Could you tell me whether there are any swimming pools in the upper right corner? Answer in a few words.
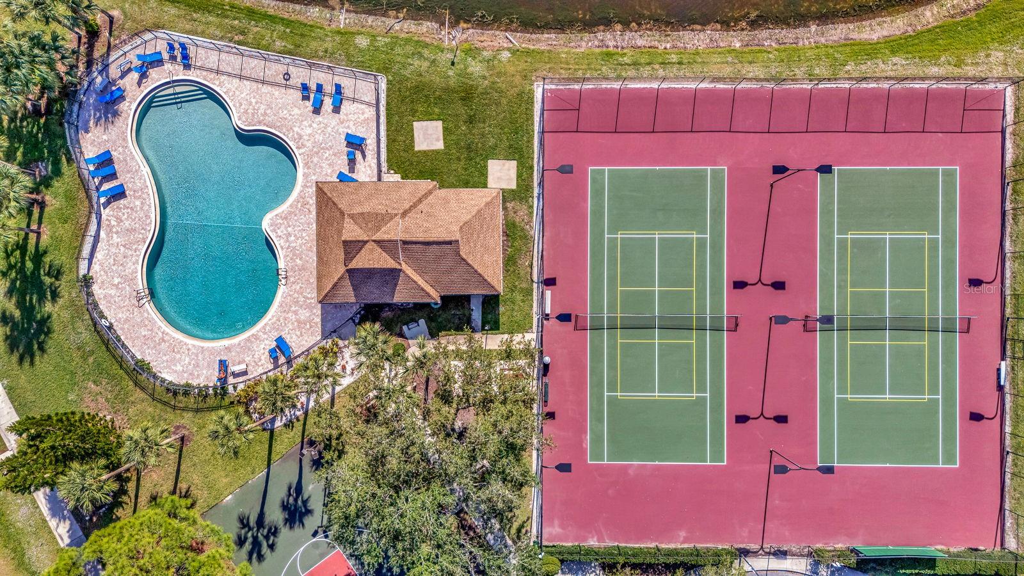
No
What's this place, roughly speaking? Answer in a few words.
sports ground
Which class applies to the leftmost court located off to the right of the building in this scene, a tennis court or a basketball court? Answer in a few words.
tennis court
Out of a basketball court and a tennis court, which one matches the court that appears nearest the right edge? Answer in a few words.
tennis court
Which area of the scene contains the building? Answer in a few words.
center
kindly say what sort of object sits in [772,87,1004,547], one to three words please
tennis court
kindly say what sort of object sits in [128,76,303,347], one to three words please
swimming pool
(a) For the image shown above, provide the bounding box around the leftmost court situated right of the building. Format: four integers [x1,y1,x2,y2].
[544,87,772,547]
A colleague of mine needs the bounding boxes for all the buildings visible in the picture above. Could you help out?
[315,181,503,304]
